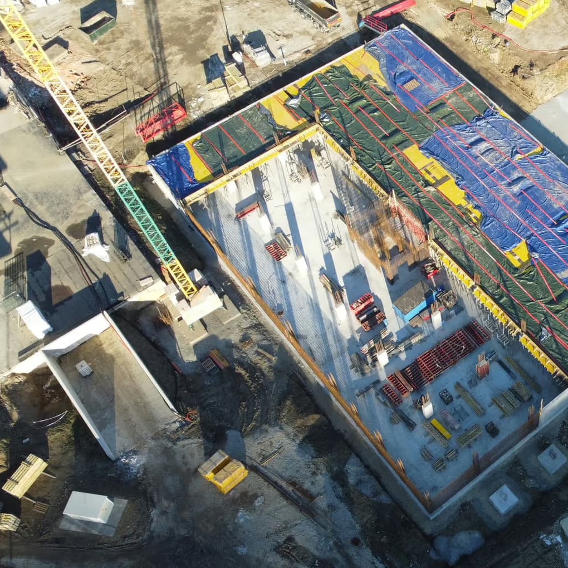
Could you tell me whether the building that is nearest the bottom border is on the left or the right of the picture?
left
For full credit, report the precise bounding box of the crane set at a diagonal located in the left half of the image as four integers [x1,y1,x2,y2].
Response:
[0,0,231,330]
